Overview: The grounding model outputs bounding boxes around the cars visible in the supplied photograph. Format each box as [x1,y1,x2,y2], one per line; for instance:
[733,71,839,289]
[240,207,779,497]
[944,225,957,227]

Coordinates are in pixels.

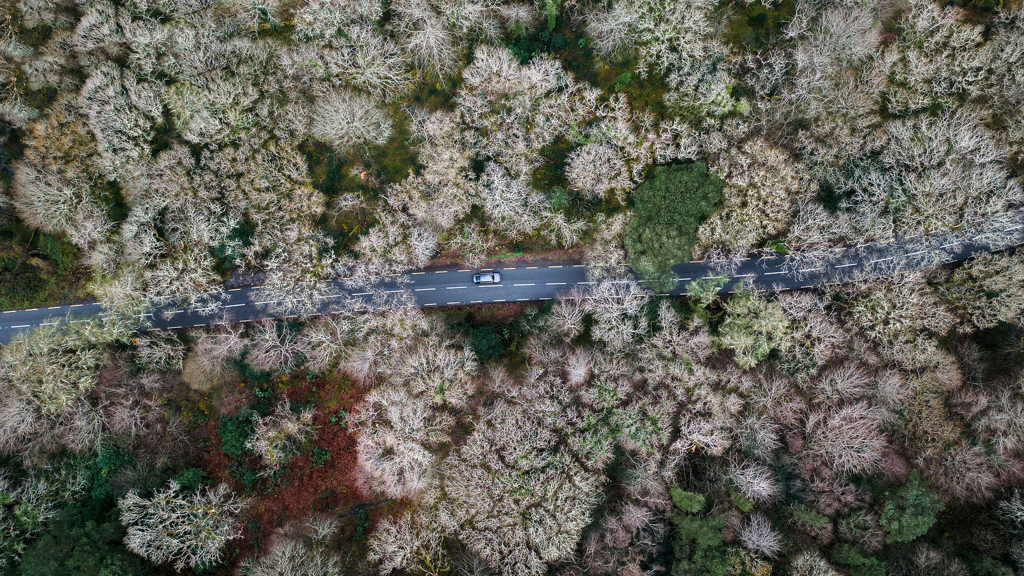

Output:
[473,272,501,284]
